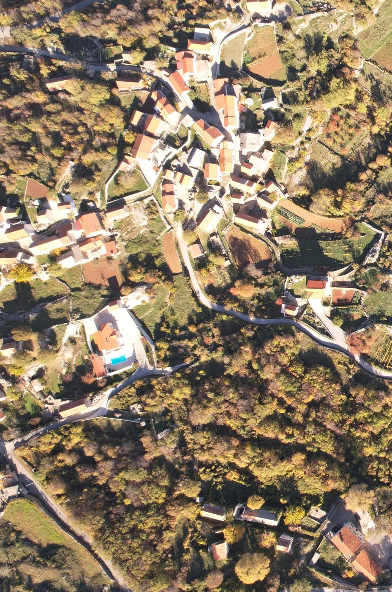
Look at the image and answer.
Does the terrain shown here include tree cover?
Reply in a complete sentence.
Yes, there's tree cover in this view.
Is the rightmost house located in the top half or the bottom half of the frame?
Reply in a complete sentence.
Seen from above, the rightmost house lies in the bottom half of the view.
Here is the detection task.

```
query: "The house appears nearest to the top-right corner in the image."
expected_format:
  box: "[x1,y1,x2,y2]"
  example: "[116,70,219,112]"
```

[245,0,272,13]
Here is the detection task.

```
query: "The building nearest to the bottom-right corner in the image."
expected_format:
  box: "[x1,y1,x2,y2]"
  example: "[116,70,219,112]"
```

[353,549,385,583]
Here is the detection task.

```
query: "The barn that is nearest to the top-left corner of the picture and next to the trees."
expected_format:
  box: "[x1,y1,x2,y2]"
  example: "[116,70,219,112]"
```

[45,75,79,93]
